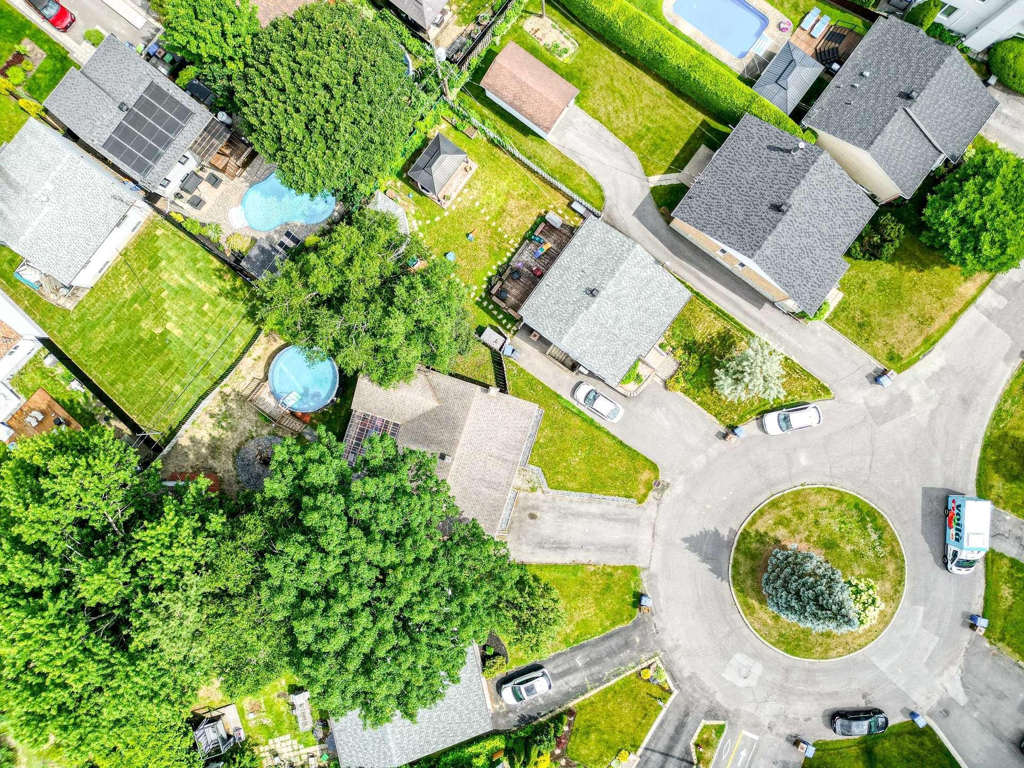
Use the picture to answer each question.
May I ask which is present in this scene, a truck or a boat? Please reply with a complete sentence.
I can see a truck in this picture.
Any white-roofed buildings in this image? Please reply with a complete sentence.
Yes, the image includes a white-roofed building.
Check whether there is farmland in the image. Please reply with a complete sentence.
No, no farmland is visible.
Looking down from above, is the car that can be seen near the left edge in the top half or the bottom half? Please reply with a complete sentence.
You can find the car that can be seen near the left edge in the top half.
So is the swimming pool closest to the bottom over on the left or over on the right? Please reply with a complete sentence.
It is on the left.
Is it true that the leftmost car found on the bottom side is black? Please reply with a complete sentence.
No, the leftmost car found on the bottom side is white.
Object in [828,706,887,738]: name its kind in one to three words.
car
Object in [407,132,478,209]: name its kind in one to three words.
gazebo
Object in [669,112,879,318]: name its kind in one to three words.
house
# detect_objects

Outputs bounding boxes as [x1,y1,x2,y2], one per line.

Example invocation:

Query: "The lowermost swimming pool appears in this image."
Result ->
[268,343,343,414]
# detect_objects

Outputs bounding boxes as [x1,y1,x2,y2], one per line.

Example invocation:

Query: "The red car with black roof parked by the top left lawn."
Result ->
[28,0,80,35]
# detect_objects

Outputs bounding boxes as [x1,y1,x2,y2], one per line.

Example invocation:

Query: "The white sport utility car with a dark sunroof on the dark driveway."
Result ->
[498,665,554,705]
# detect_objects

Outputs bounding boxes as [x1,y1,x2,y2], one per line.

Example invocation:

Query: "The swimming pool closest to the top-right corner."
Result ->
[674,0,774,57]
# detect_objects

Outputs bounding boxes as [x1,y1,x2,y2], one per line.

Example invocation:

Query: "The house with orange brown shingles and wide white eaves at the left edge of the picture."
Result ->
[0,286,59,424]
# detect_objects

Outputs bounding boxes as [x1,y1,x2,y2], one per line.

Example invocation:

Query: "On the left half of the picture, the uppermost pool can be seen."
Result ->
[226,167,338,233]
